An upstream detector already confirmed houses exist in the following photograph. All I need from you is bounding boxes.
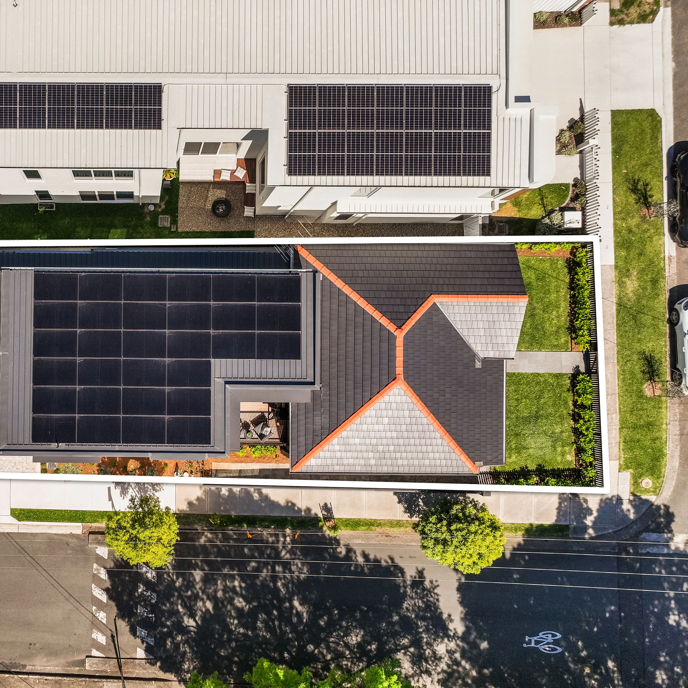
[0,0,555,228]
[0,242,530,475]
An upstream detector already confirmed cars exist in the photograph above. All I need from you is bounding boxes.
[676,299,688,393]
[668,152,688,252]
